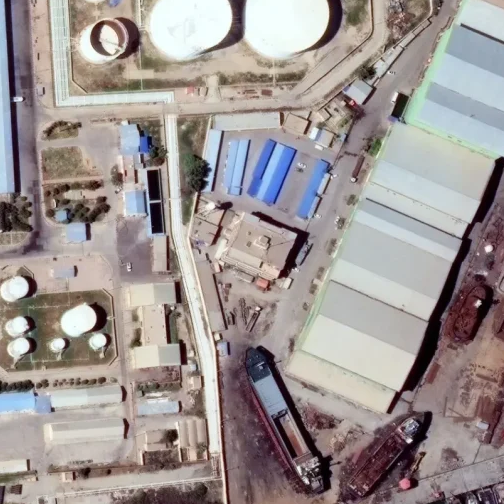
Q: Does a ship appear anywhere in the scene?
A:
Yes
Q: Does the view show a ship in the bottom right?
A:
Yes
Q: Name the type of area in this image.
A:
industrial area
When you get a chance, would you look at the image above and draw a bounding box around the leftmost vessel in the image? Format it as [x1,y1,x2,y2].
[245,346,328,495]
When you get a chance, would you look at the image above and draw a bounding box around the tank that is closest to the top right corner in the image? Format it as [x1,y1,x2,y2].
[242,0,330,61]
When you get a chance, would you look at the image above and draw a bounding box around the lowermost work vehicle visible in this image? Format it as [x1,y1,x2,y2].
[406,450,427,479]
